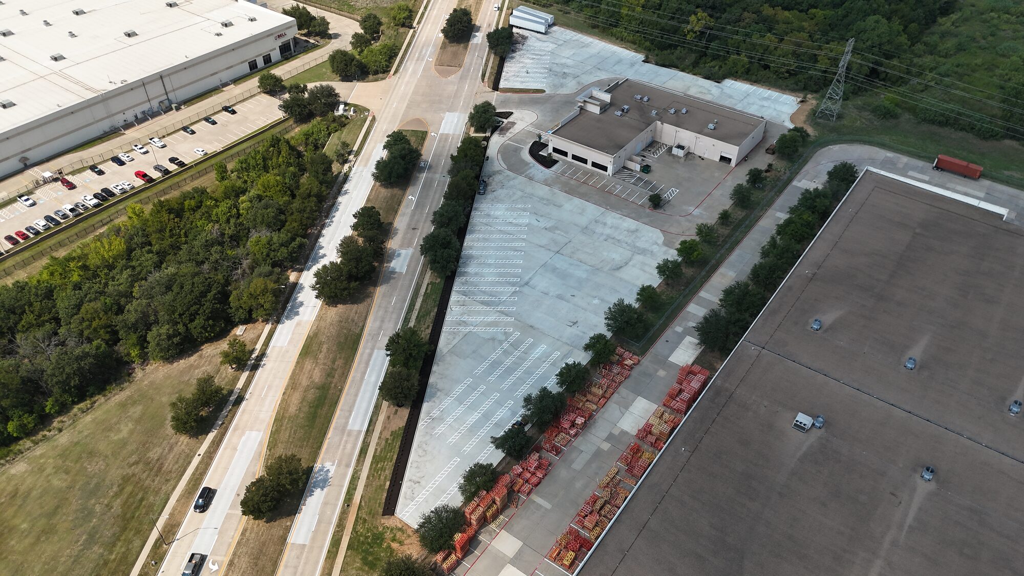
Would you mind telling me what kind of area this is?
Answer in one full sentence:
It's an industrial area.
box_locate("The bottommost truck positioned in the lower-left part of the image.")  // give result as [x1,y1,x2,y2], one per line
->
[186,553,208,576]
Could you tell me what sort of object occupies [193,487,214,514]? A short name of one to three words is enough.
car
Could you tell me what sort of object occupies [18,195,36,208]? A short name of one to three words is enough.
vehicle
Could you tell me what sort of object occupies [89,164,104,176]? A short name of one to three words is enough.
vehicle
